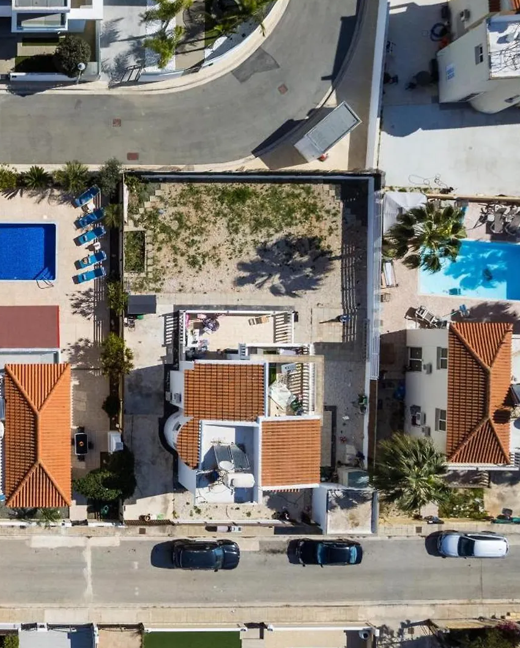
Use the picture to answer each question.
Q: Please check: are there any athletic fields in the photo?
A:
No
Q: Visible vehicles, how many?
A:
3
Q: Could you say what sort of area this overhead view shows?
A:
residential area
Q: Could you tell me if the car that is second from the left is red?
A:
No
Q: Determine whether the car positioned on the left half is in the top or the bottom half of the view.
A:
bottom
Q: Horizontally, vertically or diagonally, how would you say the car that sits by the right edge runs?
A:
horizontally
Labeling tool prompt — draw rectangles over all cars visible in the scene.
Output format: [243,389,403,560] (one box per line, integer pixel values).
[172,538,239,572]
[295,536,363,569]
[436,529,510,562]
